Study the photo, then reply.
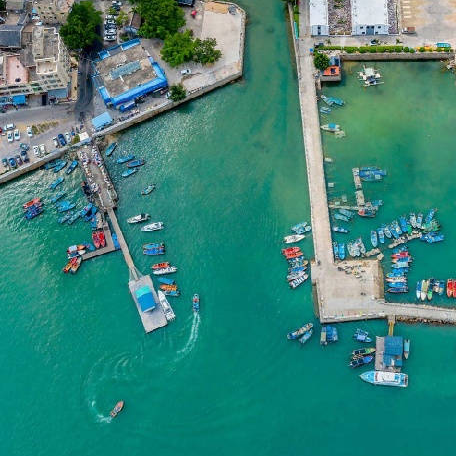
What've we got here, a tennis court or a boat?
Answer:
boat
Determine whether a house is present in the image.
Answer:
Yes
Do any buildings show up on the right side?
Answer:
Yes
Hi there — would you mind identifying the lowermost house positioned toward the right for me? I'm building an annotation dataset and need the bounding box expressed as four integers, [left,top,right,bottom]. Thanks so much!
[320,52,341,82]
